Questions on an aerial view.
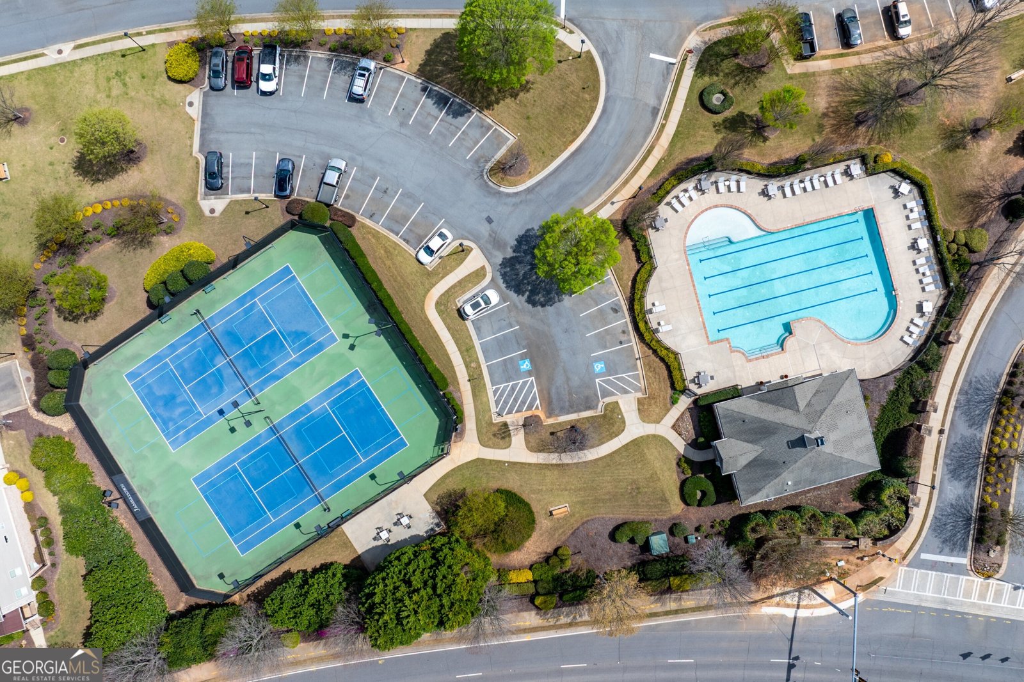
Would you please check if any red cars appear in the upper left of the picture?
Yes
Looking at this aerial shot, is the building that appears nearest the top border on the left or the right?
right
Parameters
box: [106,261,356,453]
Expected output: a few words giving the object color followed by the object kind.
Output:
blue tennis court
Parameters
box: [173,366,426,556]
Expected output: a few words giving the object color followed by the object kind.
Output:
blue tennis court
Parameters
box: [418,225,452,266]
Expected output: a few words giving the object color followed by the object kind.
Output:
white car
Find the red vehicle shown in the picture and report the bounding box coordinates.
[232,44,254,88]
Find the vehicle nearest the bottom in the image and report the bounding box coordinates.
[459,290,499,322]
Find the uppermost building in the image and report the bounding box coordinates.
[709,368,881,506]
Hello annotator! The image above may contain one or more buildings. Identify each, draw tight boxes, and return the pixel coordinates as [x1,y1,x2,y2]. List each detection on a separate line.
[0,476,51,639]
[709,368,881,506]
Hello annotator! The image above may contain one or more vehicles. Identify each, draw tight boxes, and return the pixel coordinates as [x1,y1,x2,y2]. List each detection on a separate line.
[317,156,345,206]
[796,9,818,58]
[257,43,280,95]
[207,46,228,90]
[351,58,375,102]
[203,150,224,191]
[459,290,499,322]
[418,225,452,266]
[232,44,254,88]
[836,7,860,49]
[886,0,912,40]
[274,158,295,198]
